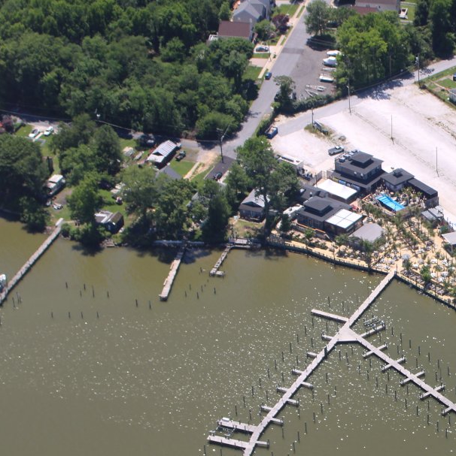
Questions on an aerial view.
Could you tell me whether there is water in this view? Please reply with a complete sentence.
Yes, there is water in the image.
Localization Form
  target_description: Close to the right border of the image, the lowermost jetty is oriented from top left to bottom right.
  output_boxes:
[349,321,456,420]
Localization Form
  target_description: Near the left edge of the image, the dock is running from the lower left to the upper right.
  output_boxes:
[0,222,65,310]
